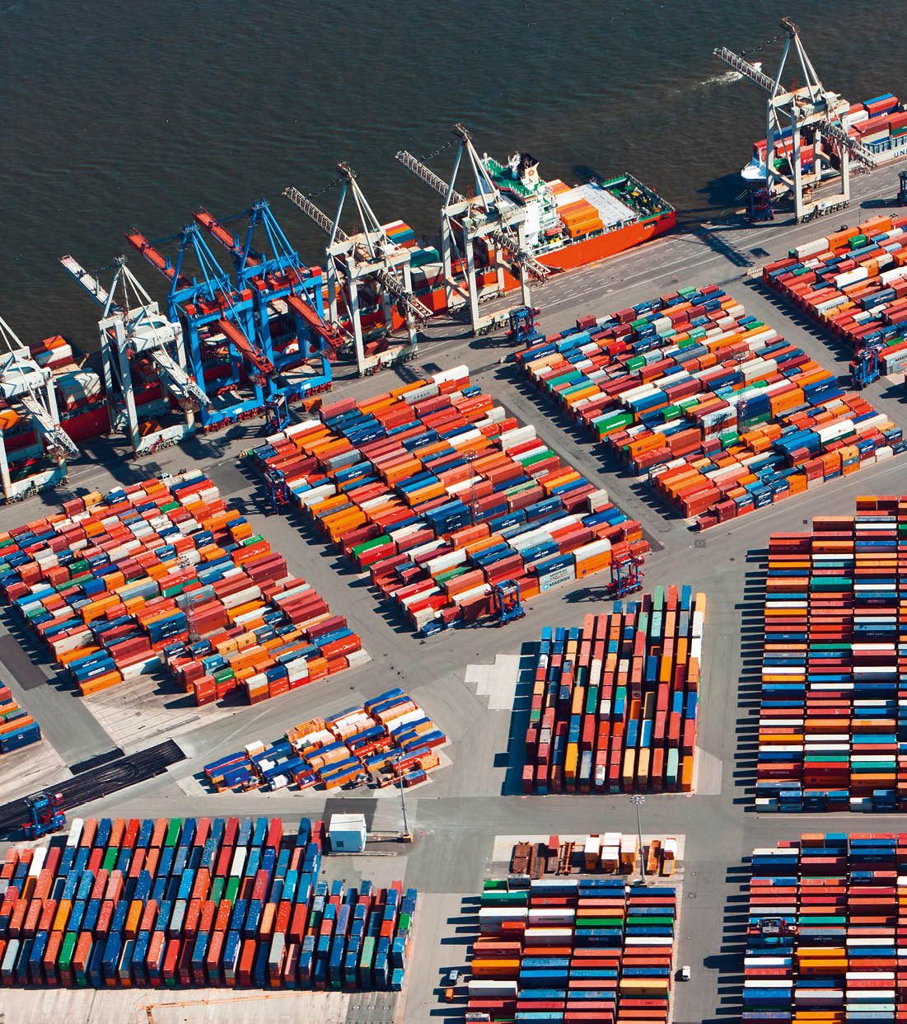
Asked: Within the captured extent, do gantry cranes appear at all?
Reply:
Yes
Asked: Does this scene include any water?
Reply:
Yes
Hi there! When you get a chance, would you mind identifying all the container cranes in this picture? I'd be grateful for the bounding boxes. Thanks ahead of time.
[195,199,357,405]
[0,295,80,502]
[395,122,556,336]
[714,15,885,223]
[125,223,285,432]
[282,160,439,376]
[61,242,209,457]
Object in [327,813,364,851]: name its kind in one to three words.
shed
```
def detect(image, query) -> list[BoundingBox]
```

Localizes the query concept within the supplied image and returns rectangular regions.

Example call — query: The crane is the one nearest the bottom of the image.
[127,988,322,1024]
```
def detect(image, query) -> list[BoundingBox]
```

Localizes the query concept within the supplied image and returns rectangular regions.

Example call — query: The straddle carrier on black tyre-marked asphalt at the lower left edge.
[21,783,67,839]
